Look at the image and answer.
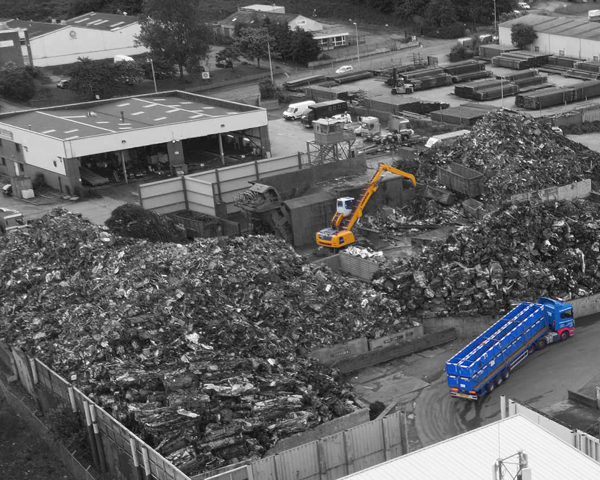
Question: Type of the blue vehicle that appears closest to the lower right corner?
truck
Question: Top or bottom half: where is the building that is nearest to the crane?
top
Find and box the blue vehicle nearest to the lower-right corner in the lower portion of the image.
[447,303,575,403]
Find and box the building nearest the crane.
[305,123,346,168]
